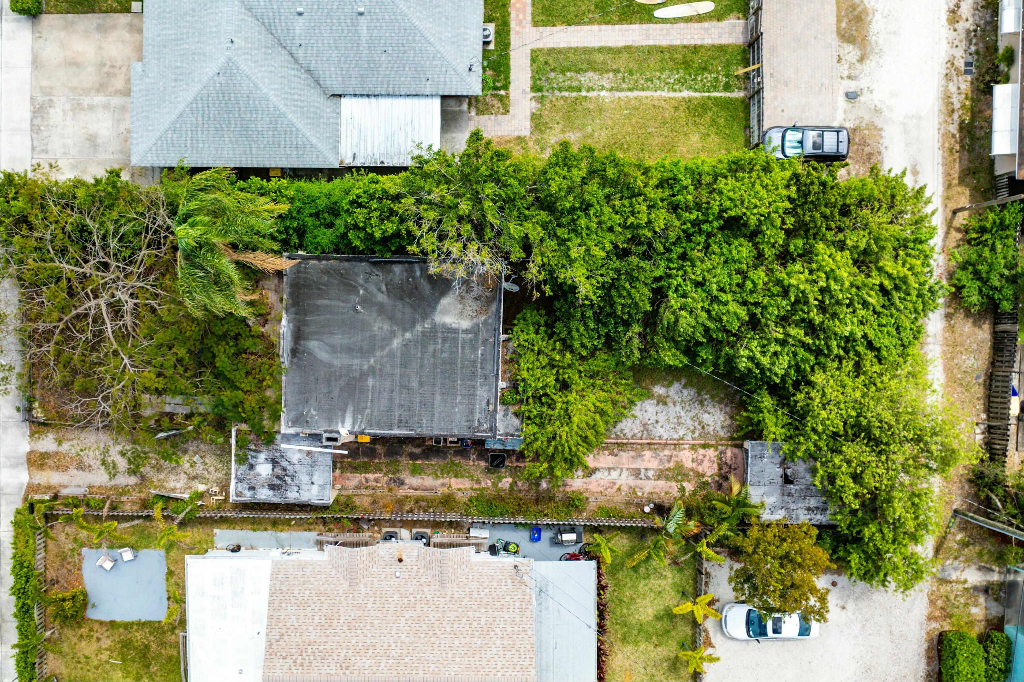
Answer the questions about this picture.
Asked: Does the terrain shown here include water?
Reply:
No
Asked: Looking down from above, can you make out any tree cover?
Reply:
Yes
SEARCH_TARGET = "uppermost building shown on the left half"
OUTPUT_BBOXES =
[127,0,485,170]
